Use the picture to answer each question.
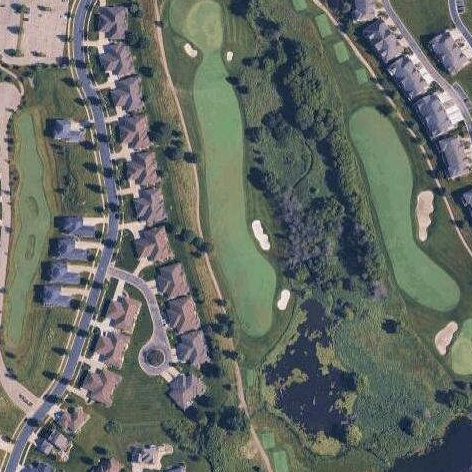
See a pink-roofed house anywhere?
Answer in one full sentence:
No, the frame has no pink-roofed house in it.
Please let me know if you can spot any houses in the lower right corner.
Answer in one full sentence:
No, I see no house in the lower right corner.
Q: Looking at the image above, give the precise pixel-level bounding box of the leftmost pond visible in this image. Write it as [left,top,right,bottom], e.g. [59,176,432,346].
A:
[263,299,358,442]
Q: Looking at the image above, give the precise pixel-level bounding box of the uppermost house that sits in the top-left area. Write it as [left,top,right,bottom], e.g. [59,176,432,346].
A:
[98,6,129,39]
